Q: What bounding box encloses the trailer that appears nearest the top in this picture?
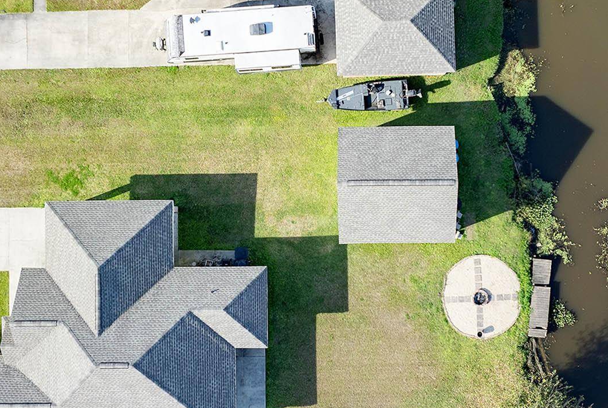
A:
[155,4,325,77]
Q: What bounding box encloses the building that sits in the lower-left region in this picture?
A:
[0,200,269,408]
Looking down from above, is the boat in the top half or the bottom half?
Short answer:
top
